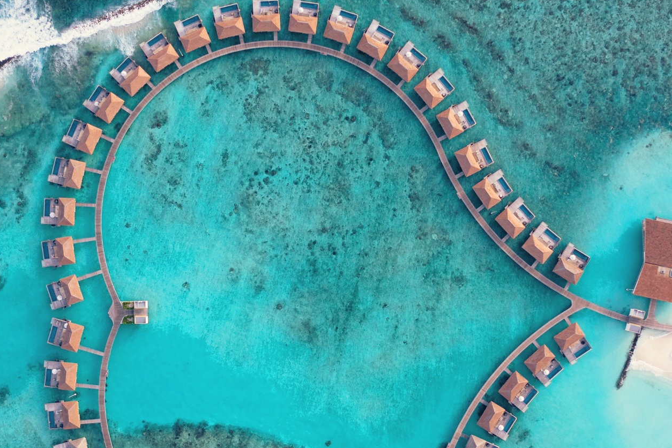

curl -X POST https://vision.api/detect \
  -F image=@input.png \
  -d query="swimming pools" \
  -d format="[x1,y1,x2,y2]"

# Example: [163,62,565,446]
[45,367,51,386]
[43,199,50,218]
[48,324,59,344]
[440,73,456,91]
[523,389,540,407]
[503,417,518,435]
[259,0,278,6]
[219,2,239,13]
[543,226,562,242]
[546,366,564,382]
[46,284,58,304]
[145,31,163,47]
[180,14,200,26]
[339,8,358,19]
[481,144,495,163]
[498,174,514,193]
[67,119,80,138]
[51,157,62,177]
[574,345,592,361]
[572,246,590,261]
[42,241,50,261]
[409,46,428,62]
[519,202,537,219]
[115,57,132,73]
[87,85,103,103]
[376,23,395,37]
[463,107,477,126]
[299,0,319,8]
[48,409,55,429]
